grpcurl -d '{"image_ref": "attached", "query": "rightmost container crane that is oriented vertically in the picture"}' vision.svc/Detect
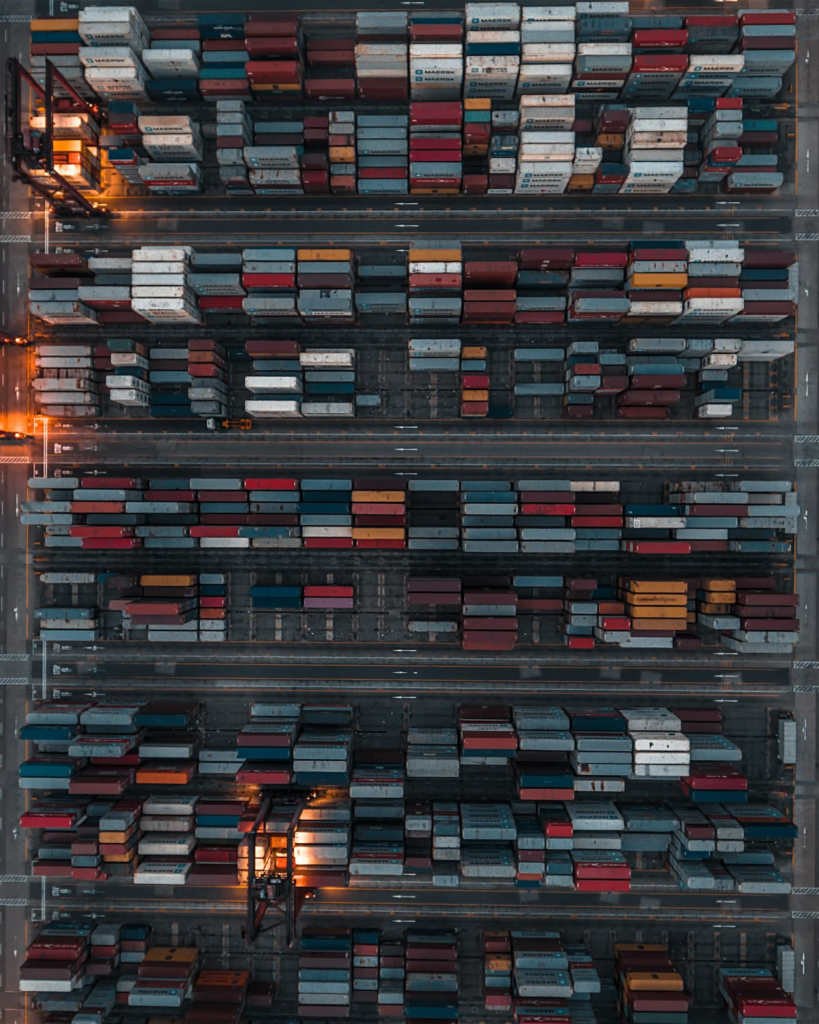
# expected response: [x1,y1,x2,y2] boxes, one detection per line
[242,781,312,938]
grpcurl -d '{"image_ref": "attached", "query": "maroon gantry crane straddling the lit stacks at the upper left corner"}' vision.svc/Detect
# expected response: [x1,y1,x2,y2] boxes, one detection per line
[7,57,103,221]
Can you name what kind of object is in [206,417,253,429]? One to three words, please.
vehicle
